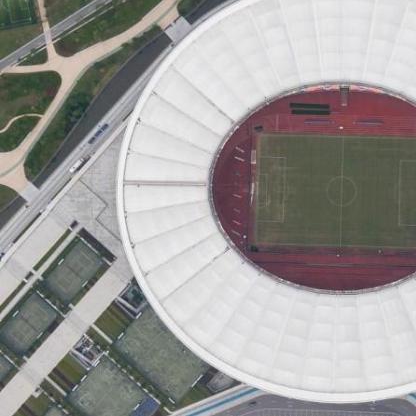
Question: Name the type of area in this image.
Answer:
sports ground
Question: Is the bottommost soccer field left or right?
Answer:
right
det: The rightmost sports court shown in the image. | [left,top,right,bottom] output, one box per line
[115,301,206,399]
